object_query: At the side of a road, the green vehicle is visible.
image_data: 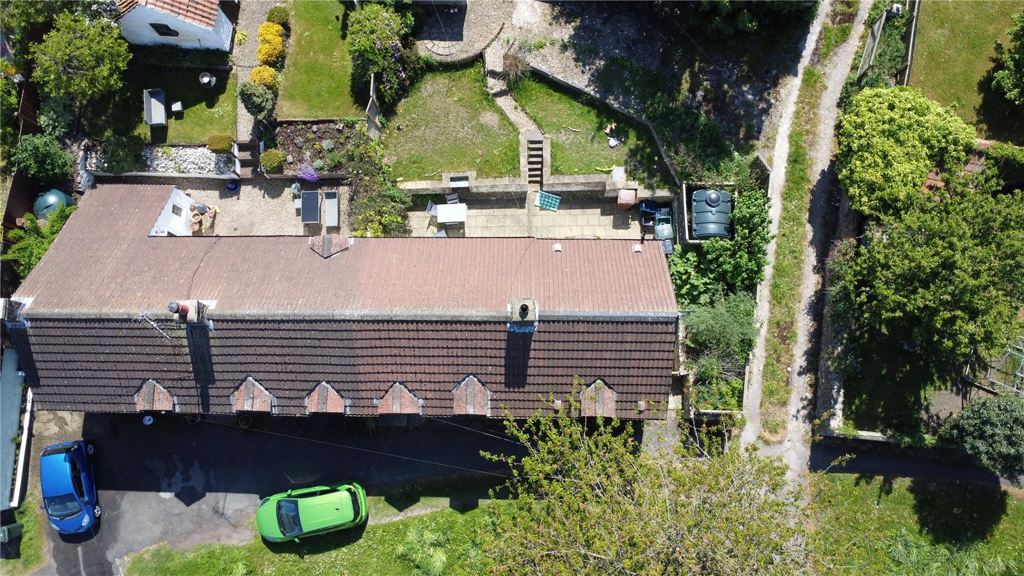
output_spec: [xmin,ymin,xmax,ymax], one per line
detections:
[259,479,369,546]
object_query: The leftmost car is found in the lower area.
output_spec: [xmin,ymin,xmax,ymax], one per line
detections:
[37,444,103,535]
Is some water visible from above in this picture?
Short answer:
No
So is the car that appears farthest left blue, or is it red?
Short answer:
blue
